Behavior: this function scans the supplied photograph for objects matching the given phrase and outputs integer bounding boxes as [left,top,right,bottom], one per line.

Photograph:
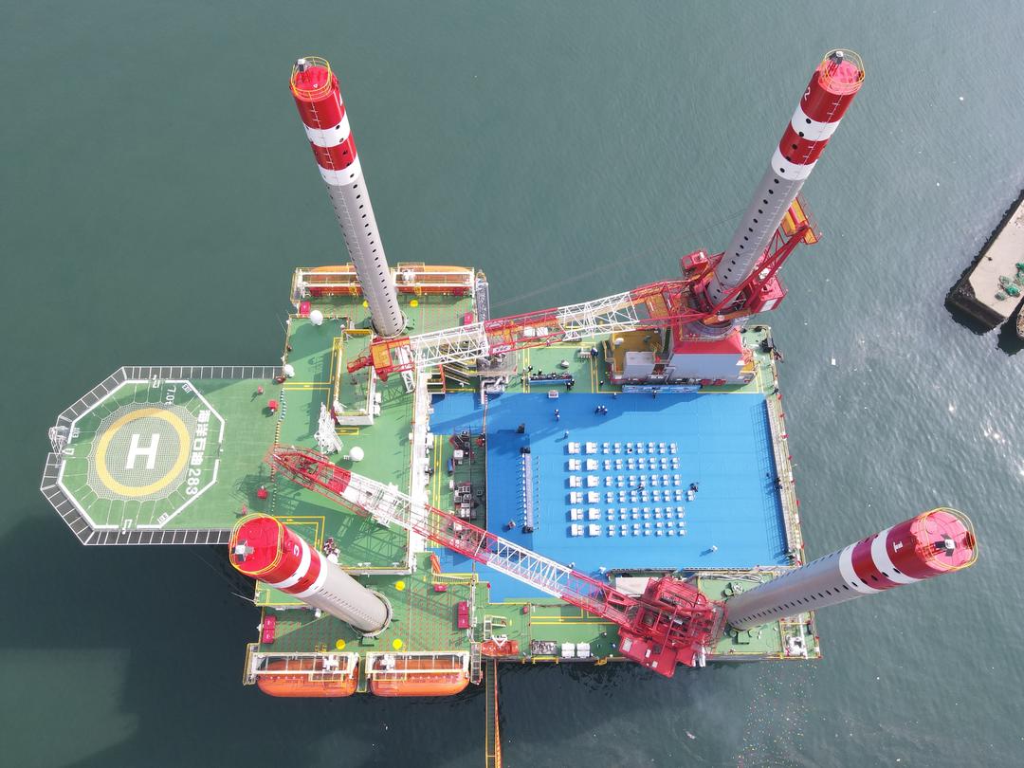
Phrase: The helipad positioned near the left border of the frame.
[40,365,282,546]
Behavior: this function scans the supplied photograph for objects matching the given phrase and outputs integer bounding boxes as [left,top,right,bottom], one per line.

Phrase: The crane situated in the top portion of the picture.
[345,187,837,387]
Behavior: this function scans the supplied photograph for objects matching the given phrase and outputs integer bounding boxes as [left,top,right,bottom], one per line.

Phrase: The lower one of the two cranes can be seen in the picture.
[263,439,729,684]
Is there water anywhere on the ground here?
Yes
